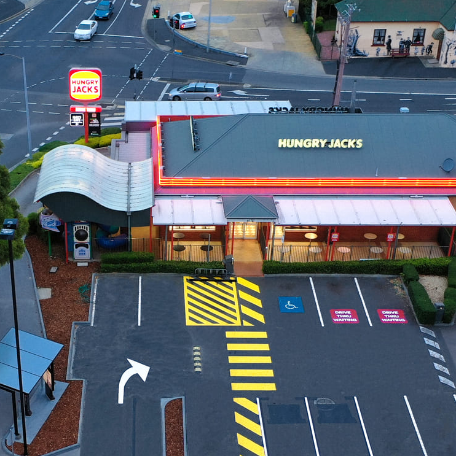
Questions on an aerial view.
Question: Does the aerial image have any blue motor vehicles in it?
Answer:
Yes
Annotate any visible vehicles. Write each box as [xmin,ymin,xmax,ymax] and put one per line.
[169,10,199,29]
[90,0,115,19]
[168,78,222,102]
[71,18,100,38]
